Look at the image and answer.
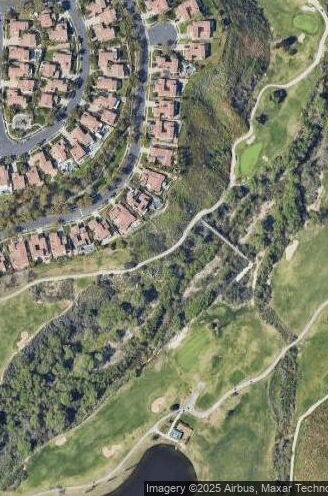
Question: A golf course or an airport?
golf course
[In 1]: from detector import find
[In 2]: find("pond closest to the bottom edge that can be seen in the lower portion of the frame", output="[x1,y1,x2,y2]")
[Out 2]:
[123,443,198,496]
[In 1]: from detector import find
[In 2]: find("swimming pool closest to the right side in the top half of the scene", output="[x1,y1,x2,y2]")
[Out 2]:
[183,61,198,78]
